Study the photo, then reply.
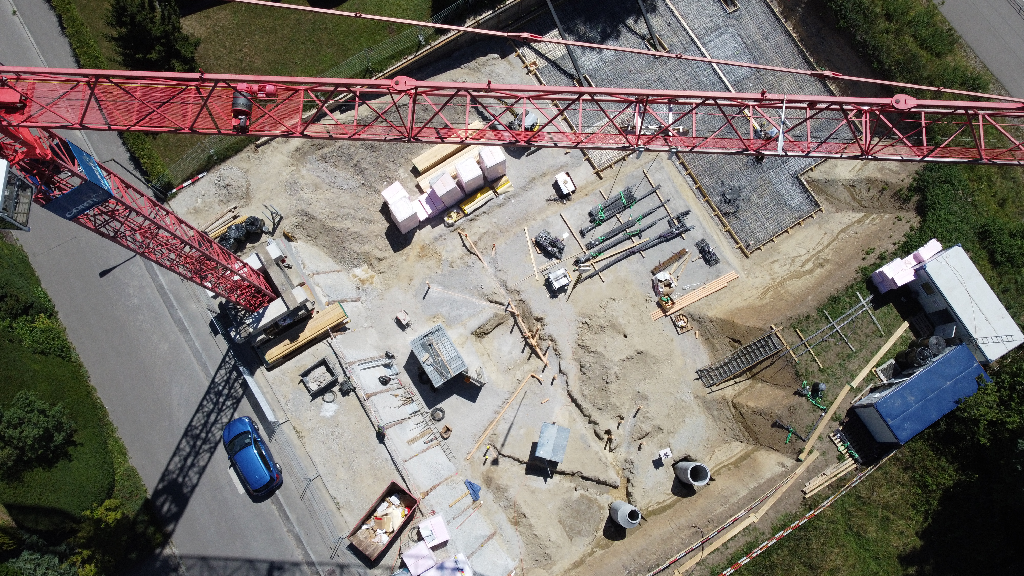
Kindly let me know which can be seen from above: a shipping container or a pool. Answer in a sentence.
There is a shipping container in the scene.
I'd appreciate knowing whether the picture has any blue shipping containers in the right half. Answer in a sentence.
Yes, a blue shipping container is visible in the right half.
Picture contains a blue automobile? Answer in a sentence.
Yes, there is a blue automobile in the image.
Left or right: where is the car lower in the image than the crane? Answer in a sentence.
You can find the car lower in the image than the crane on the left side of the picture.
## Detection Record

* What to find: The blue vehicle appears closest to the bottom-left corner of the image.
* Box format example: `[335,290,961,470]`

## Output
[226,417,284,499]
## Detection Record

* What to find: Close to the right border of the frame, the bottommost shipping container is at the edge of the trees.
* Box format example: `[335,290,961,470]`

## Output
[851,342,995,445]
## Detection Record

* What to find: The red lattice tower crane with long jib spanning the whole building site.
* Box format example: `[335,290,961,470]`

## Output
[0,0,1024,311]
